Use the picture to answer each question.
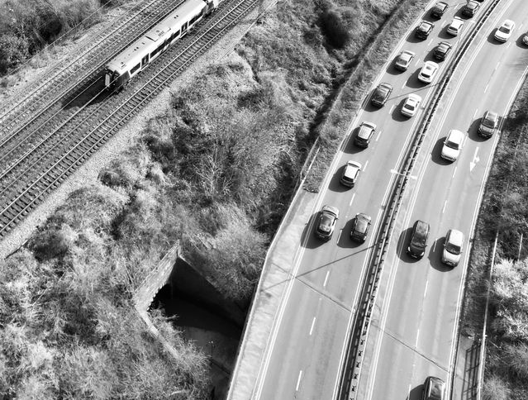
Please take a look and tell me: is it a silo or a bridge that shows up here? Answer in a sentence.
There is a bridge in the scene.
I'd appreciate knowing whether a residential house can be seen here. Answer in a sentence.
No, no residential house can be seen from above.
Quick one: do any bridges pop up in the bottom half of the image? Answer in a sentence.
Yes, a bridge appears in the bottom half of the image.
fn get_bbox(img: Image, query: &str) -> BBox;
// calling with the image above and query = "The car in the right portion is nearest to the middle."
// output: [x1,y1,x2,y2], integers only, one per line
[313,206,340,243]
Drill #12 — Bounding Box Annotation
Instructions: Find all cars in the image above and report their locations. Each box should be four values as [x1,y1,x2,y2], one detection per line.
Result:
[432,42,453,62]
[399,92,422,119]
[493,20,515,42]
[368,81,394,107]
[393,50,417,75]
[347,213,373,247]
[420,374,445,400]
[460,0,482,18]
[405,218,431,260]
[439,227,466,269]
[413,20,436,42]
[444,16,466,37]
[417,61,440,84]
[352,122,376,151]
[338,160,362,189]
[477,109,499,139]
[440,128,465,162]
[429,1,449,20]
[313,206,340,243]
